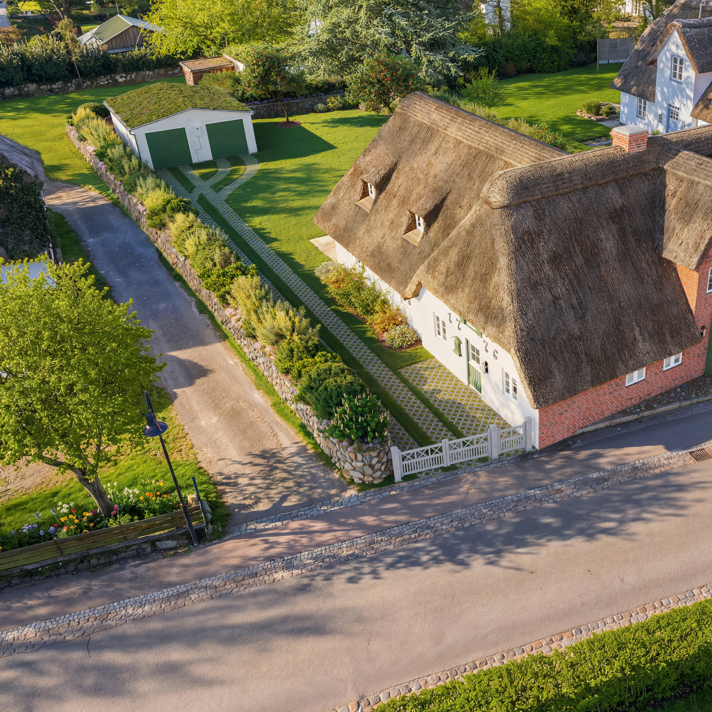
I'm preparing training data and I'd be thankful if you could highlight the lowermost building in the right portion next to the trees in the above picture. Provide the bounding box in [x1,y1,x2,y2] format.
[313,85,712,450]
